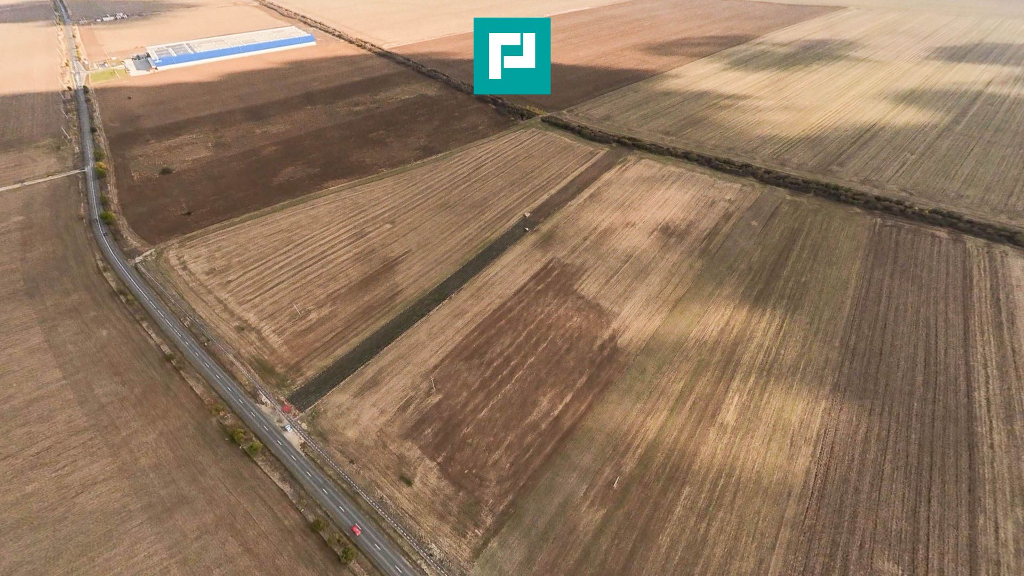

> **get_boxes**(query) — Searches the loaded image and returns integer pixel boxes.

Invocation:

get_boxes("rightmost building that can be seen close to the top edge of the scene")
[149,25,315,70]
